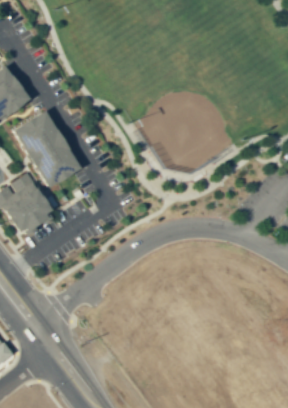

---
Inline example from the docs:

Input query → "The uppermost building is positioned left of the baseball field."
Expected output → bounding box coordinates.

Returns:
[0,66,31,120]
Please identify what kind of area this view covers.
sports ground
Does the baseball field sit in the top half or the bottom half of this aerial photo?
top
